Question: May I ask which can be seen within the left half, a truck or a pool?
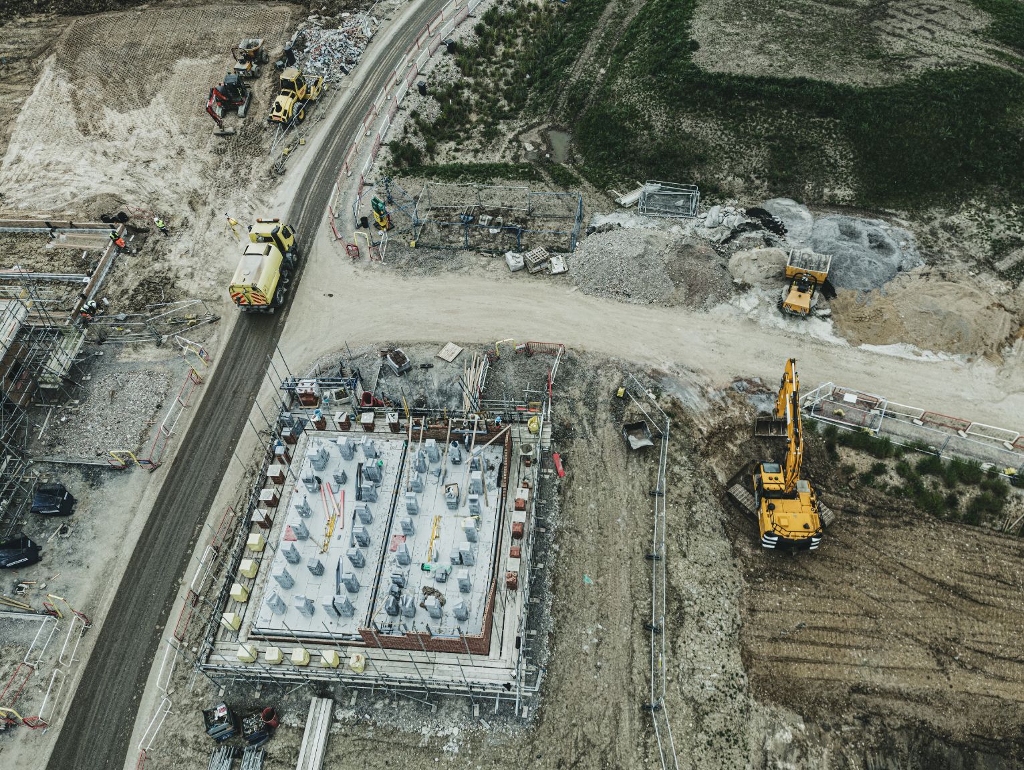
truck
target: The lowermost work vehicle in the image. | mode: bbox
[722,357,838,567]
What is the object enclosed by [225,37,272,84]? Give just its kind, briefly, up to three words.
truck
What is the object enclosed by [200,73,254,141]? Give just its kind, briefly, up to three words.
work vehicle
